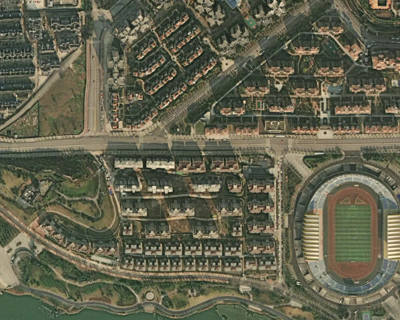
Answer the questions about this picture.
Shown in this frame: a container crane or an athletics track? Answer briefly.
athletics track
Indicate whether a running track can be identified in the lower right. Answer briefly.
Yes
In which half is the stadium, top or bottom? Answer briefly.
bottom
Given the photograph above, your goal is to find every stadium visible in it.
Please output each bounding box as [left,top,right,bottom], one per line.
[288,156,400,312]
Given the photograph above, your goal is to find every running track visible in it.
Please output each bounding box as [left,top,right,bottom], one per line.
[329,188,377,280]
